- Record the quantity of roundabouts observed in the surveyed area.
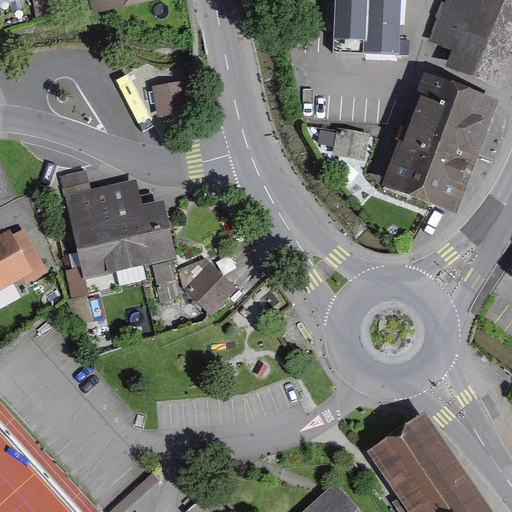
1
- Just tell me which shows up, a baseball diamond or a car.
car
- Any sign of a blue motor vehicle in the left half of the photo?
Yes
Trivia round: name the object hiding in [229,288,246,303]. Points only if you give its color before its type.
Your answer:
white camper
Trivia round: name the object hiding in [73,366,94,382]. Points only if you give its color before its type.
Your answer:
blue car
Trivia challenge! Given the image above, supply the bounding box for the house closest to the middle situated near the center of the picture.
[178,256,236,316]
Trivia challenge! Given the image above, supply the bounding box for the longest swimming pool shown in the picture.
[88,295,105,321]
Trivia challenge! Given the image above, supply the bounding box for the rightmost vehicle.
[423,208,444,237]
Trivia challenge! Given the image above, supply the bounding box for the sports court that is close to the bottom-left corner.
[0,434,71,512]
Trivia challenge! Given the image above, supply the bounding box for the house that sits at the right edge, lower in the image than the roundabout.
[368,412,494,512]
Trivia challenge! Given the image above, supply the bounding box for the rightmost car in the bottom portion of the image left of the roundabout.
[284,380,299,402]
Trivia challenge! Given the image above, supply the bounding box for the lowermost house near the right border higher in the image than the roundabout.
[384,72,498,212]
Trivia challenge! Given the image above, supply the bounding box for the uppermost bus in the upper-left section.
[116,74,155,134]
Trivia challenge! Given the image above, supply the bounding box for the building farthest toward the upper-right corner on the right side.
[430,0,505,75]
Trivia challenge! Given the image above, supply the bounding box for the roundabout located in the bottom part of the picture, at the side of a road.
[326,266,460,398]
